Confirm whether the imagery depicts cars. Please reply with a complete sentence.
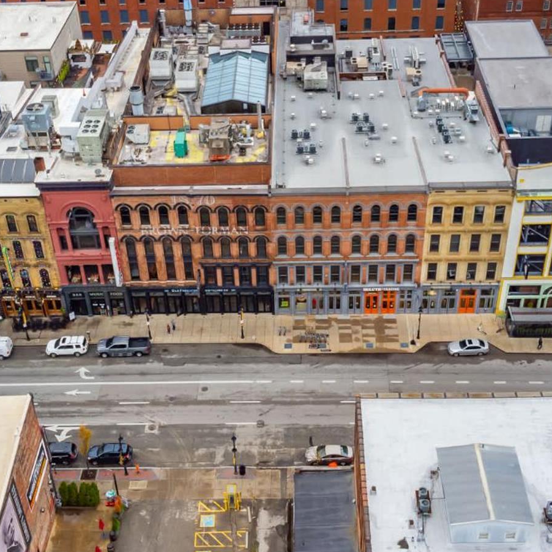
Yes, a car is visible in the scene.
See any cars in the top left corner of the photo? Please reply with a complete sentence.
No, the scene shows no car in the top left corner of the photo.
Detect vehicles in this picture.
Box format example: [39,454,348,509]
[87,442,135,465]
[48,440,80,465]
[304,443,353,465]
[0,335,15,359]
[95,331,152,356]
[45,334,89,354]
[446,336,489,353]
